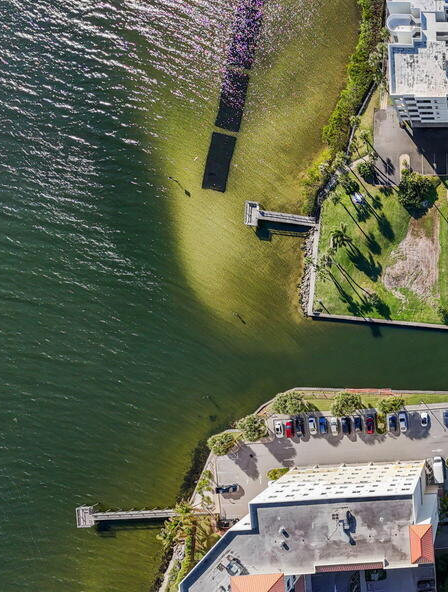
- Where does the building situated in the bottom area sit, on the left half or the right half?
right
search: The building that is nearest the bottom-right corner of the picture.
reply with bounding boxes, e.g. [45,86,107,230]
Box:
[179,459,445,592]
